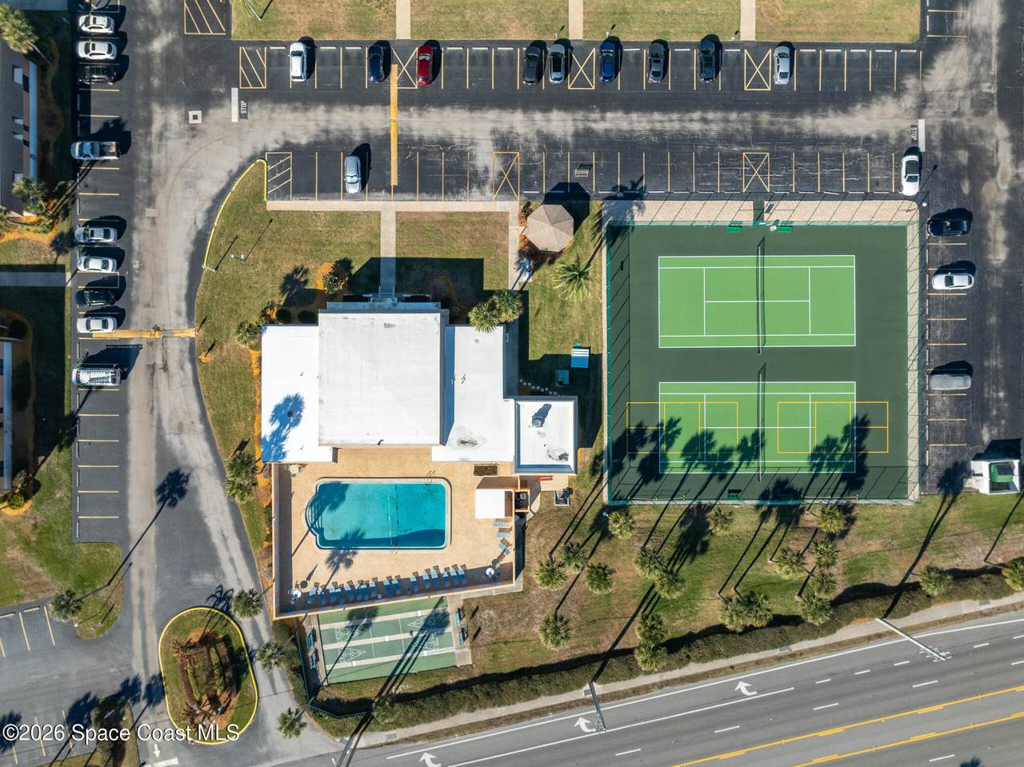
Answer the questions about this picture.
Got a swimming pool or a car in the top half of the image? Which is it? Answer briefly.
car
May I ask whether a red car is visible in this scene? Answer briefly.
Yes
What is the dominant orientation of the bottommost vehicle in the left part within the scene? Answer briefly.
from left to right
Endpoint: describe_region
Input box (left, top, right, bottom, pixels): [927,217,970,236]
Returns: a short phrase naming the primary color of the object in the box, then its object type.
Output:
black car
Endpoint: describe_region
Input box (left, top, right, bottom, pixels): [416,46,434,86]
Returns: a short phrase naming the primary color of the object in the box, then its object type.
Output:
red car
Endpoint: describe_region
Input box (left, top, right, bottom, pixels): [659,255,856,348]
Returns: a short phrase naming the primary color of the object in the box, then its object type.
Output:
green tennis court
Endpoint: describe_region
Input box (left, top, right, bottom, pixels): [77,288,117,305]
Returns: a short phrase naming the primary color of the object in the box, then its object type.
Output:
black car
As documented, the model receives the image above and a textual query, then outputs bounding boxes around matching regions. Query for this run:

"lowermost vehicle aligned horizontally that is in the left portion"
[75,364,124,386]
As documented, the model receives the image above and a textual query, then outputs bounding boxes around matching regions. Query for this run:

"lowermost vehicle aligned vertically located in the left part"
[343,154,362,194]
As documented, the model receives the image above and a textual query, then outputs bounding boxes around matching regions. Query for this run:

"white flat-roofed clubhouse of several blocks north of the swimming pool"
[262,284,577,474]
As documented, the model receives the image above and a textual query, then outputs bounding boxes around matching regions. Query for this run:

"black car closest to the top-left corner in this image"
[78,65,118,84]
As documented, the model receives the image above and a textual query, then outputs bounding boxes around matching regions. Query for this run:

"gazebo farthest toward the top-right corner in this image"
[527,205,574,252]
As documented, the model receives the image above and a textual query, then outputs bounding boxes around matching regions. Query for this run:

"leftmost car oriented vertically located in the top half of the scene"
[289,42,308,83]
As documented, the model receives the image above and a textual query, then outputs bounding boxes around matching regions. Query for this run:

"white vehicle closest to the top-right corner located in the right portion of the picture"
[899,152,921,197]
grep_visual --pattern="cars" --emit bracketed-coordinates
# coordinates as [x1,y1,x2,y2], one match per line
[343,154,362,194]
[549,44,567,84]
[78,65,118,84]
[77,288,117,305]
[289,42,308,83]
[78,255,118,272]
[899,152,921,197]
[772,46,791,87]
[697,40,717,82]
[930,271,974,290]
[927,217,970,236]
[601,42,619,83]
[78,40,119,61]
[78,315,118,332]
[522,46,541,86]
[367,44,385,84]
[416,46,434,86]
[79,15,118,36]
[77,225,118,243]
[649,42,667,83]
